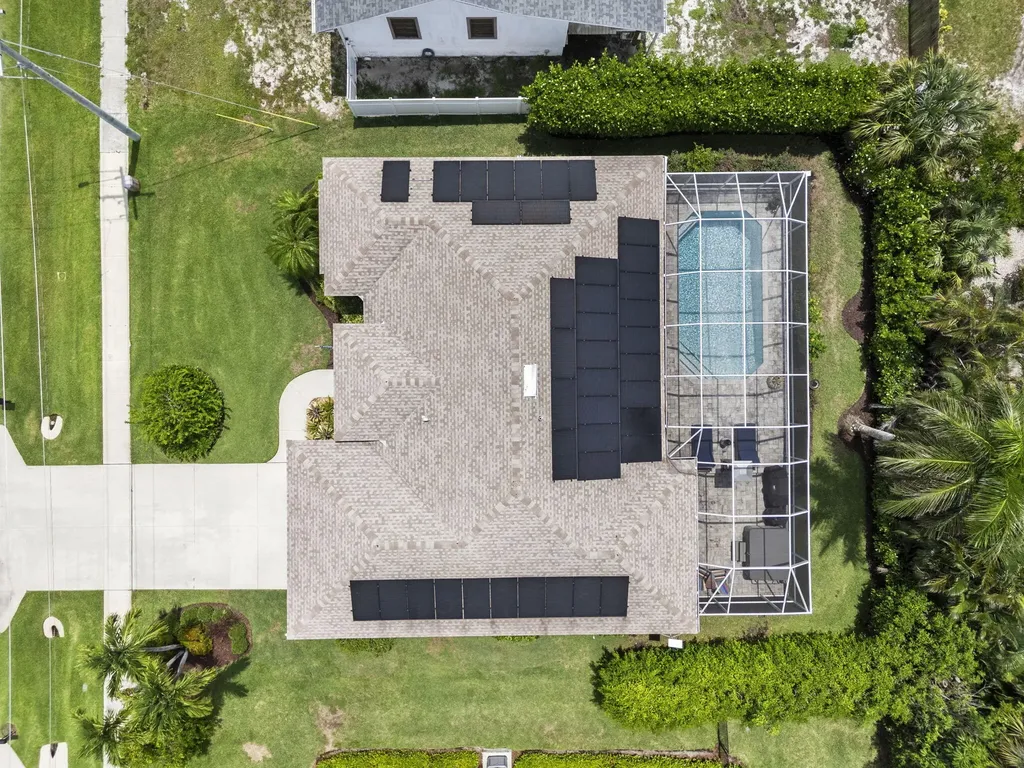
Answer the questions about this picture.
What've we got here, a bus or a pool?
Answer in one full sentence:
The one in the frame is a pool.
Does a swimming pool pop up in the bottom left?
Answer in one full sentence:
No, no swimming pool is visible in the bottom left.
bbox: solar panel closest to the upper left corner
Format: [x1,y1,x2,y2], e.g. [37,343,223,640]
[380,161,411,202]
